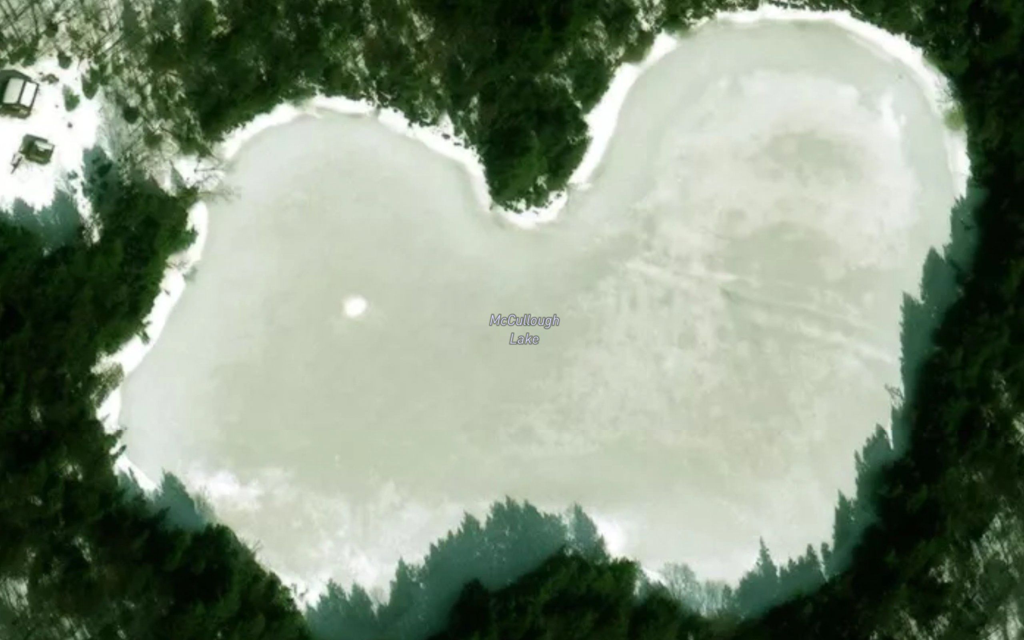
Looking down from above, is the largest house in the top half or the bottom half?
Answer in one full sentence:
It is in the top half that the largest house appears.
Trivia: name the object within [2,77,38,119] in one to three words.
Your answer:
house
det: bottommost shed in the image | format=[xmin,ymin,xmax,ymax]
[28,140,55,163]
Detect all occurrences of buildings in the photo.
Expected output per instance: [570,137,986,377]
[28,140,55,163]
[2,77,38,119]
